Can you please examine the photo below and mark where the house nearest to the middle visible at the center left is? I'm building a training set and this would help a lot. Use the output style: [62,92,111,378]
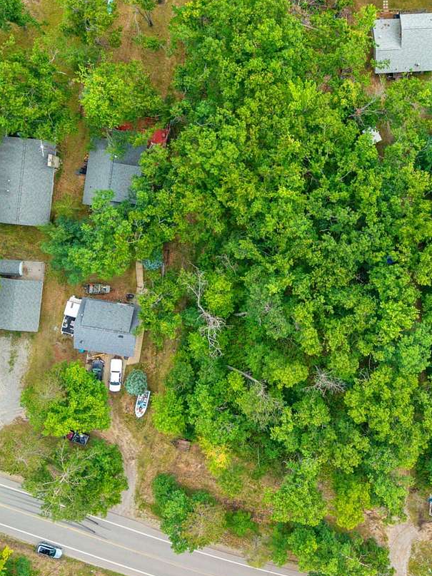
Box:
[74,296,140,356]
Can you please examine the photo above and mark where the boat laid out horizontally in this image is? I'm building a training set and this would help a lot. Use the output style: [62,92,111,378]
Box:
[82,282,116,295]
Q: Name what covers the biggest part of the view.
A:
trees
